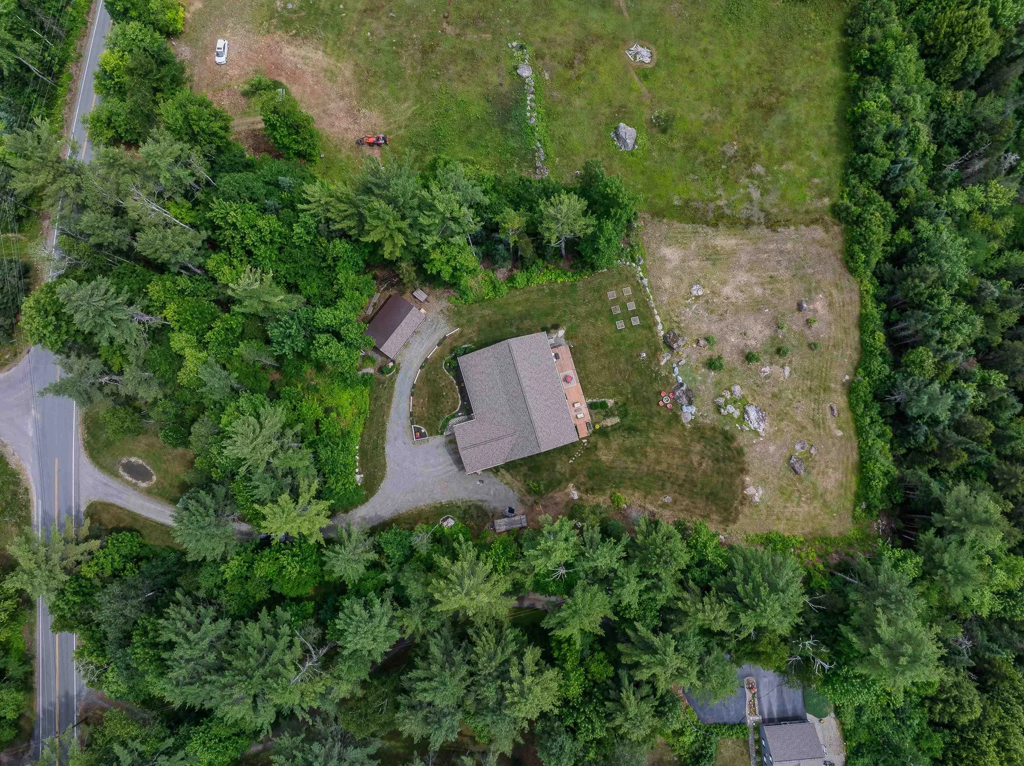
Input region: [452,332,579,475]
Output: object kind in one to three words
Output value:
house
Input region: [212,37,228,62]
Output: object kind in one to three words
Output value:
car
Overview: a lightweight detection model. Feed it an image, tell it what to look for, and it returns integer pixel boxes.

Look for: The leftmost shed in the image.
[364,294,428,360]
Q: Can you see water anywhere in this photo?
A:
No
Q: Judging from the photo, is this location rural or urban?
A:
rural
